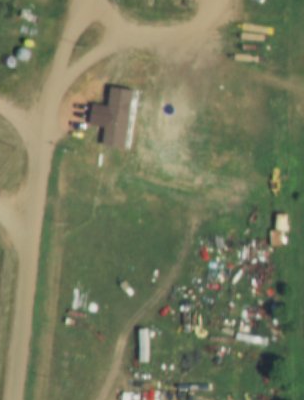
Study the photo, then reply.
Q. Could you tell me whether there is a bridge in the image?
No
